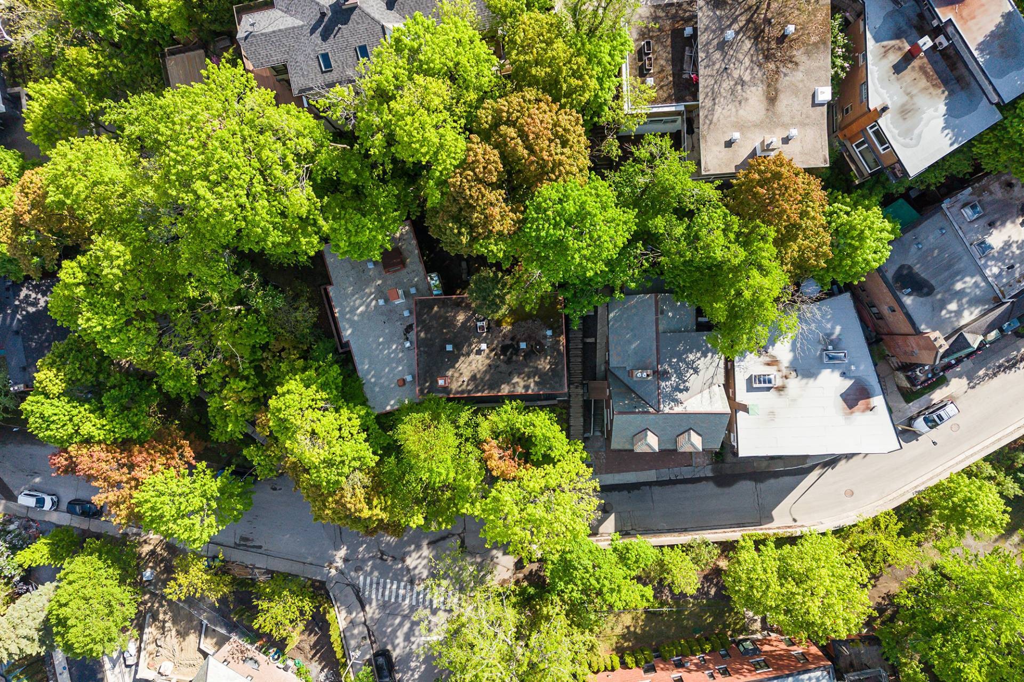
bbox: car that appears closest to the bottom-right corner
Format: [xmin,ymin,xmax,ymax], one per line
[906,397,961,435]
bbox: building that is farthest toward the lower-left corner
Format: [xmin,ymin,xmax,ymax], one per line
[194,638,302,682]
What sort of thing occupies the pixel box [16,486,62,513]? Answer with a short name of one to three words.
car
